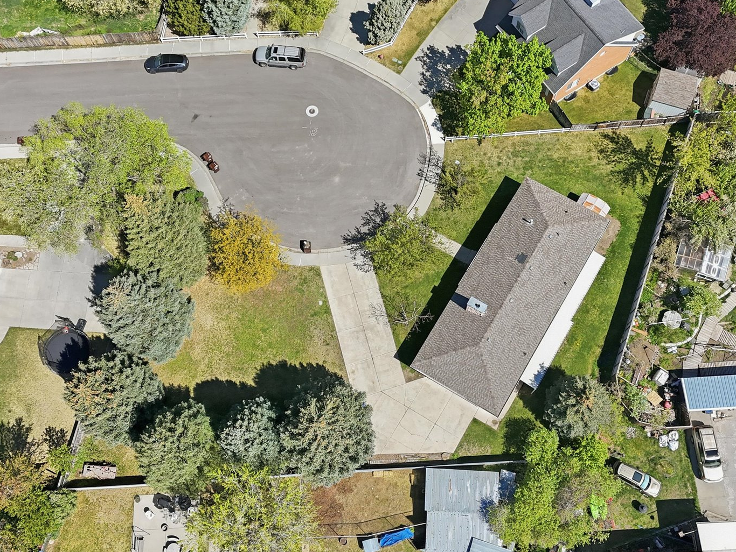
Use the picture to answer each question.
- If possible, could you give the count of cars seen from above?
four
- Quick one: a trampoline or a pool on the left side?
trampoline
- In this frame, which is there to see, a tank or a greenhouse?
greenhouse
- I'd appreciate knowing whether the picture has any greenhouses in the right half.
Yes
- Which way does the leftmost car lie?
horizontally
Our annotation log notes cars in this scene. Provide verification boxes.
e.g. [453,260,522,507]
[609,456,662,500]
[692,426,725,483]
[251,42,306,69]
[141,49,188,72]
